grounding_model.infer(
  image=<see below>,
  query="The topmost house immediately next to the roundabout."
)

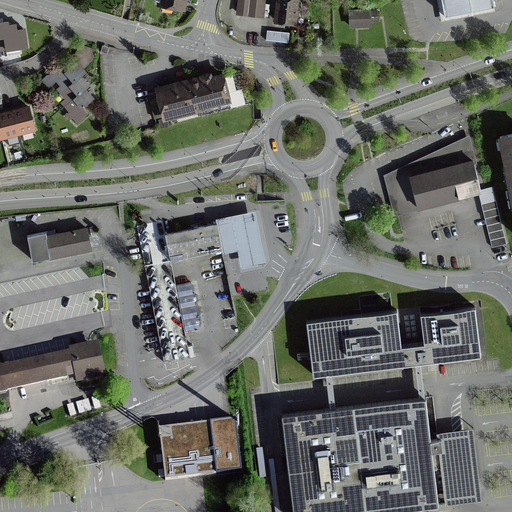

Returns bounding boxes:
[154,71,246,128]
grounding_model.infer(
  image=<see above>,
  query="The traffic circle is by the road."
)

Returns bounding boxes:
[262,98,342,179]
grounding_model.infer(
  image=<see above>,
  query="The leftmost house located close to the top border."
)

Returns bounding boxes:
[0,18,32,61]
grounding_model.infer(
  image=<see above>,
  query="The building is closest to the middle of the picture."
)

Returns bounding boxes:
[216,211,268,271]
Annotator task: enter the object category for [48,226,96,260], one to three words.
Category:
house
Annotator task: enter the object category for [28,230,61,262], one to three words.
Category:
building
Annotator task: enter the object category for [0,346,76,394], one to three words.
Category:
house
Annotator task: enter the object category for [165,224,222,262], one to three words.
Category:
building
